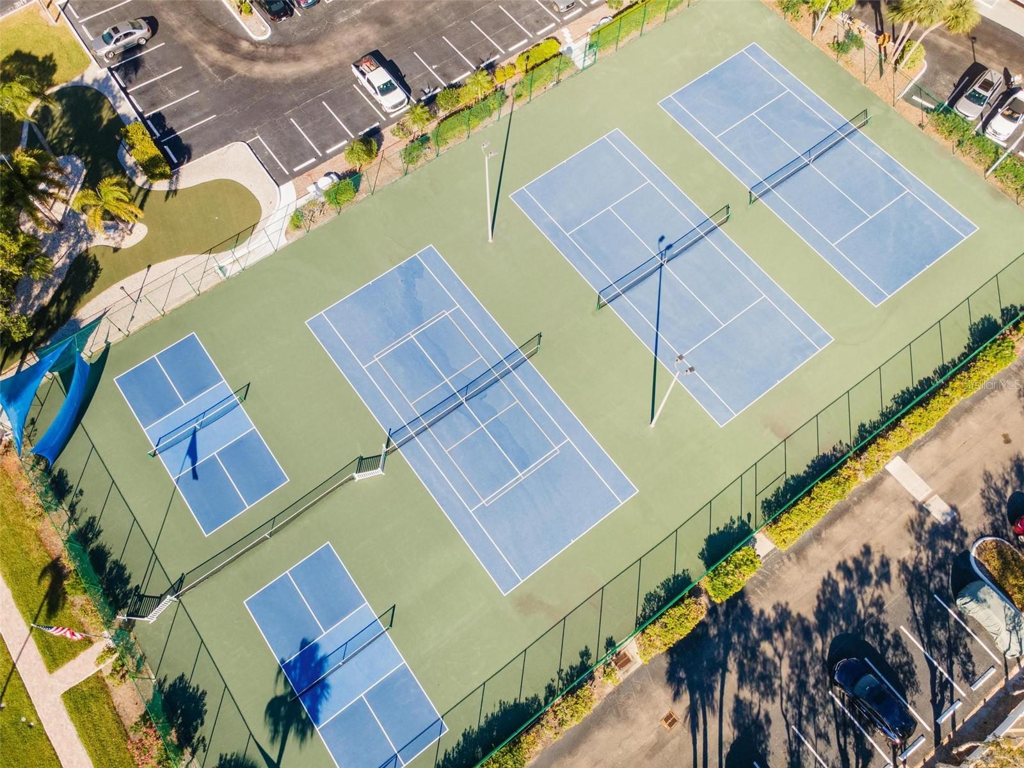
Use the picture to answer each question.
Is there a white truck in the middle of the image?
No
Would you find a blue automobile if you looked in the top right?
No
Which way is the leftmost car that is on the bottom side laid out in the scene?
at an angle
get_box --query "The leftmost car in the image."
[92,20,152,57]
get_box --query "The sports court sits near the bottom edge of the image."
[243,543,449,768]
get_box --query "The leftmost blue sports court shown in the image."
[114,333,289,535]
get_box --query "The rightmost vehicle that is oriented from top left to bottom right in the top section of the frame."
[353,55,405,111]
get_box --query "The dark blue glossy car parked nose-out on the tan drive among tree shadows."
[834,661,918,744]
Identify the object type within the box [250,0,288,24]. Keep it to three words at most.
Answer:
car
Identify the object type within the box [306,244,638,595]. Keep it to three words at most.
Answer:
tennis court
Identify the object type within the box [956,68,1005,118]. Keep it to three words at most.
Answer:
car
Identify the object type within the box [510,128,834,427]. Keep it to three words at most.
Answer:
tennis court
